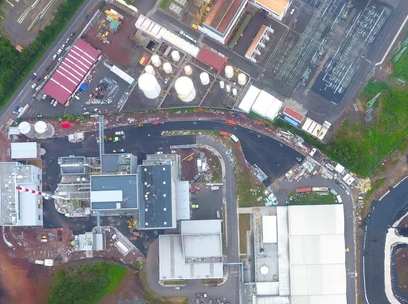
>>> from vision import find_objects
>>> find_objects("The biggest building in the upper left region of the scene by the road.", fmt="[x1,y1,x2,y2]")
[43,38,103,108]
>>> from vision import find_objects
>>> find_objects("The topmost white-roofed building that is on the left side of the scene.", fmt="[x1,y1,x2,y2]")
[135,15,163,42]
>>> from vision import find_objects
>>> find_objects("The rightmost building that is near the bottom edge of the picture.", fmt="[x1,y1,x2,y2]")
[288,205,347,304]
